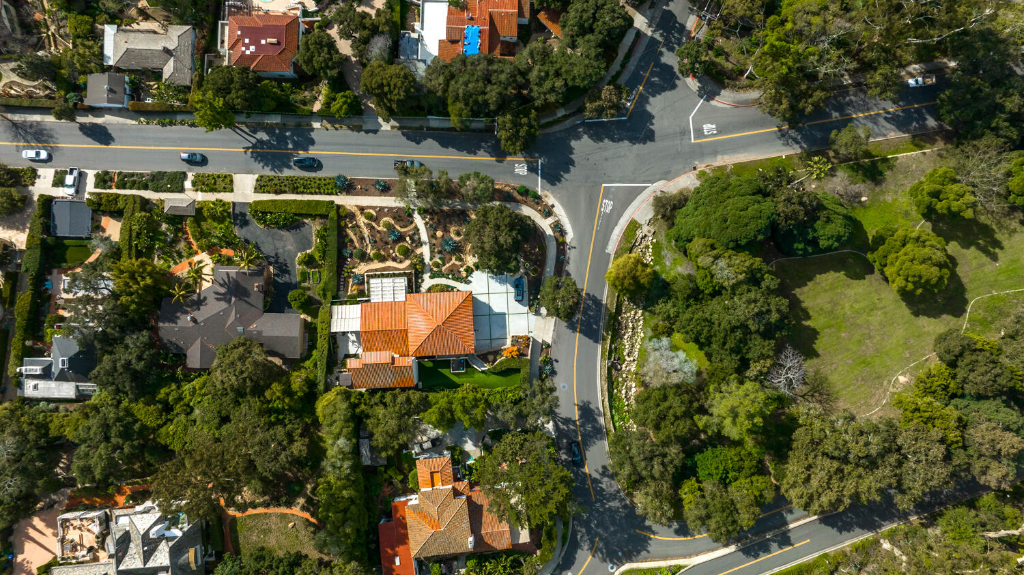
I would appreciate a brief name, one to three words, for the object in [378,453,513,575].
house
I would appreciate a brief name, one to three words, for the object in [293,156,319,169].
vehicle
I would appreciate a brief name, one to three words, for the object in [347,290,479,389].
house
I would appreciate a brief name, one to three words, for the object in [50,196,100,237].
building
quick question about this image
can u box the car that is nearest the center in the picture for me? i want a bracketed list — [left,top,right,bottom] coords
[513,278,525,302]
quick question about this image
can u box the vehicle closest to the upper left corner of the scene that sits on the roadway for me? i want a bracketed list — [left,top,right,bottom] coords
[23,149,51,161]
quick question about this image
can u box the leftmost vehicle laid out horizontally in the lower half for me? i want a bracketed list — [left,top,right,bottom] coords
[411,439,437,454]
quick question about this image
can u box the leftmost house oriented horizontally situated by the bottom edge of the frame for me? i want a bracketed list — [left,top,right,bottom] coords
[51,505,214,575]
